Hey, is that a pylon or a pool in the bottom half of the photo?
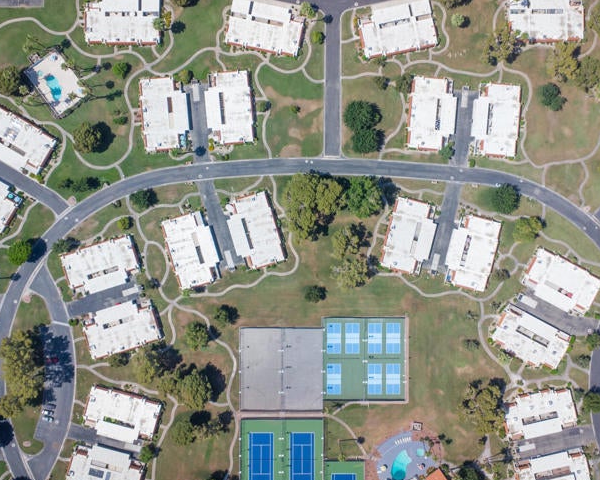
pool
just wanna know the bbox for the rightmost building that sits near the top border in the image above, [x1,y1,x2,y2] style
[505,0,585,45]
